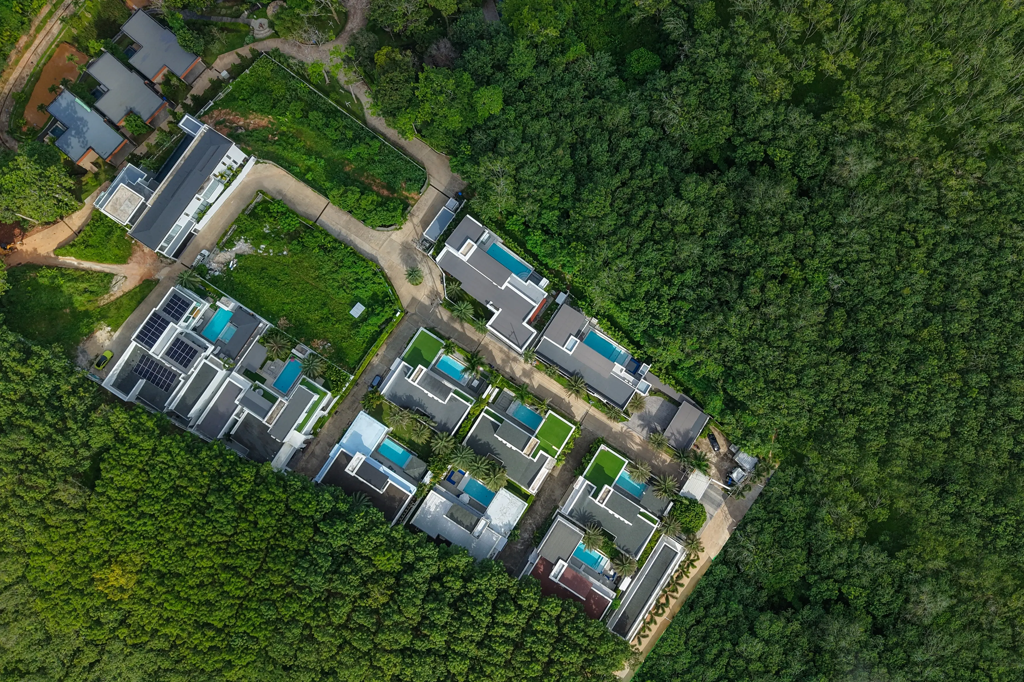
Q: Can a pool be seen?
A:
Yes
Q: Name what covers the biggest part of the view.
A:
trees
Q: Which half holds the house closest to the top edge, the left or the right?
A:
left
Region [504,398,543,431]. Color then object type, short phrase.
blue swimming pool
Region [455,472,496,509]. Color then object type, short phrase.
blue swimming pool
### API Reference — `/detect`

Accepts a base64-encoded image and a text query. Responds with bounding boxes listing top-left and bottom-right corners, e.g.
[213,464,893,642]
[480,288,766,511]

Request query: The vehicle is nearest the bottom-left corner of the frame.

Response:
[93,350,111,370]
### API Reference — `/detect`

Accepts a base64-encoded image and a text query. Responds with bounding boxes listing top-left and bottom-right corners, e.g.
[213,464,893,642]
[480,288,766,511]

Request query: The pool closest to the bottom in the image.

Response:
[572,540,611,575]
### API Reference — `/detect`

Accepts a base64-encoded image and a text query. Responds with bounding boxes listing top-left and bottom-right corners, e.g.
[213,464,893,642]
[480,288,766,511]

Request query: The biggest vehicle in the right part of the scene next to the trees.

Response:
[708,432,722,454]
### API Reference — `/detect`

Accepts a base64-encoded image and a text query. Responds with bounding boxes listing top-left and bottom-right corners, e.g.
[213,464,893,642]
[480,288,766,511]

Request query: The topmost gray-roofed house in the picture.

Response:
[120,8,205,83]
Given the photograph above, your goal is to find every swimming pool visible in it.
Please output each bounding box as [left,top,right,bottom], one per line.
[376,438,414,469]
[625,355,640,377]
[581,329,633,368]
[504,398,543,431]
[218,322,239,345]
[154,136,194,184]
[199,306,236,344]
[434,353,473,388]
[485,240,536,283]
[616,470,650,500]
[124,44,137,60]
[46,120,67,137]
[455,472,496,509]
[572,540,611,575]
[270,356,305,396]
[88,84,107,100]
